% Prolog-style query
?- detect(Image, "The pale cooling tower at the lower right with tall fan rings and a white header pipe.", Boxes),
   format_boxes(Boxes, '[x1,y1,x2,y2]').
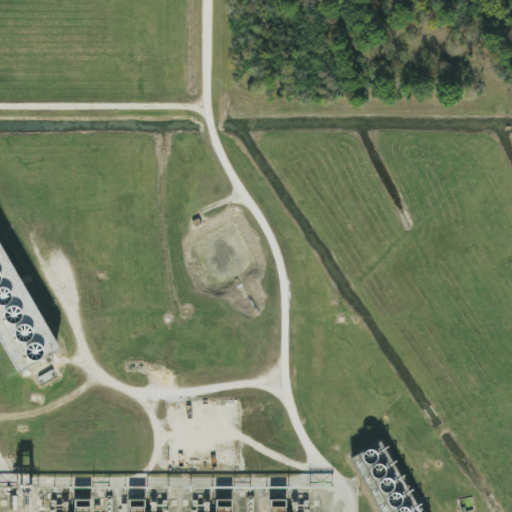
[350,438,424,512]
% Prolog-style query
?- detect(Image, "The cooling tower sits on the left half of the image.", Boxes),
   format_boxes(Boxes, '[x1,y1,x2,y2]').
[0,240,62,372]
